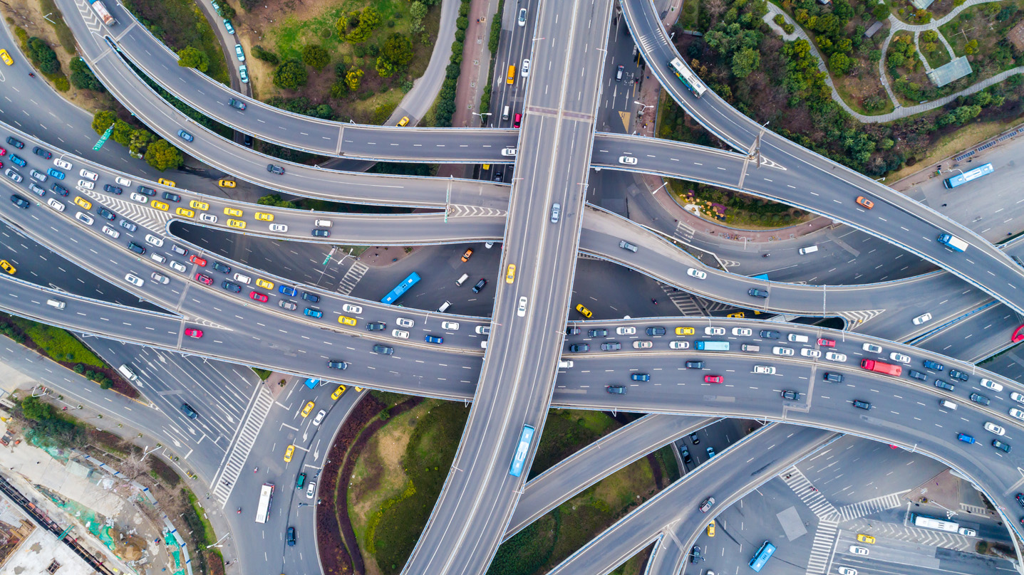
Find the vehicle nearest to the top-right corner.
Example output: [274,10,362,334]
[938,163,996,190]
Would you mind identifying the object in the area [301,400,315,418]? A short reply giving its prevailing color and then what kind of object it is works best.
yellow car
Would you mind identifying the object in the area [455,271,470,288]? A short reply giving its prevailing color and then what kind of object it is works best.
white vehicle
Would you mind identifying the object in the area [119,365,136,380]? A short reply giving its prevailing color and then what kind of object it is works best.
white vehicle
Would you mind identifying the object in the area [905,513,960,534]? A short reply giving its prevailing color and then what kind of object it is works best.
white bus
